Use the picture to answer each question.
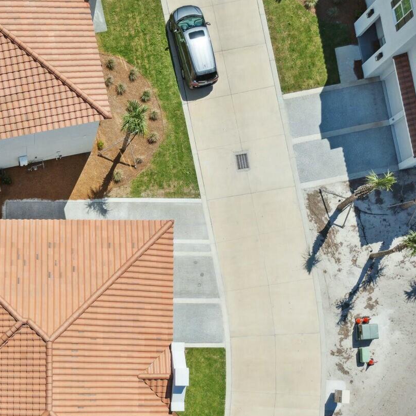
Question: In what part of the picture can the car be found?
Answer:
top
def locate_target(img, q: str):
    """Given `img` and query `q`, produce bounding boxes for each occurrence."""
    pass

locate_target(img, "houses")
[0,216,195,416]
[0,0,114,171]
[357,0,416,169]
